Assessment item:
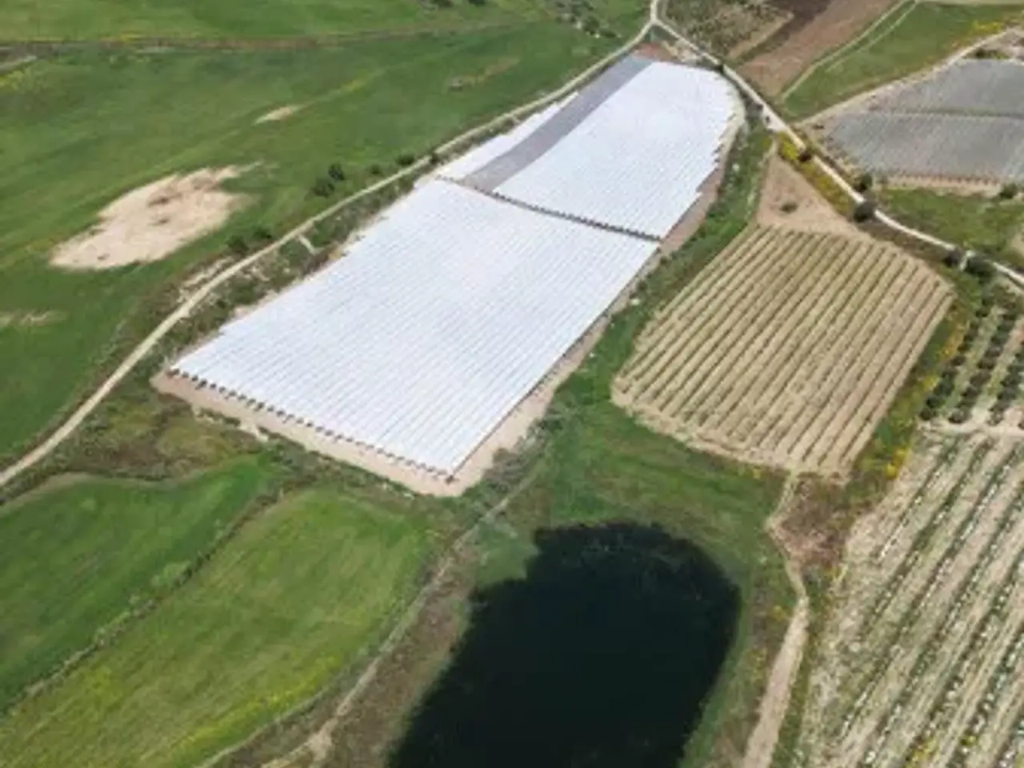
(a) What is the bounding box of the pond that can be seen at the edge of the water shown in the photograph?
[380,518,745,768]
